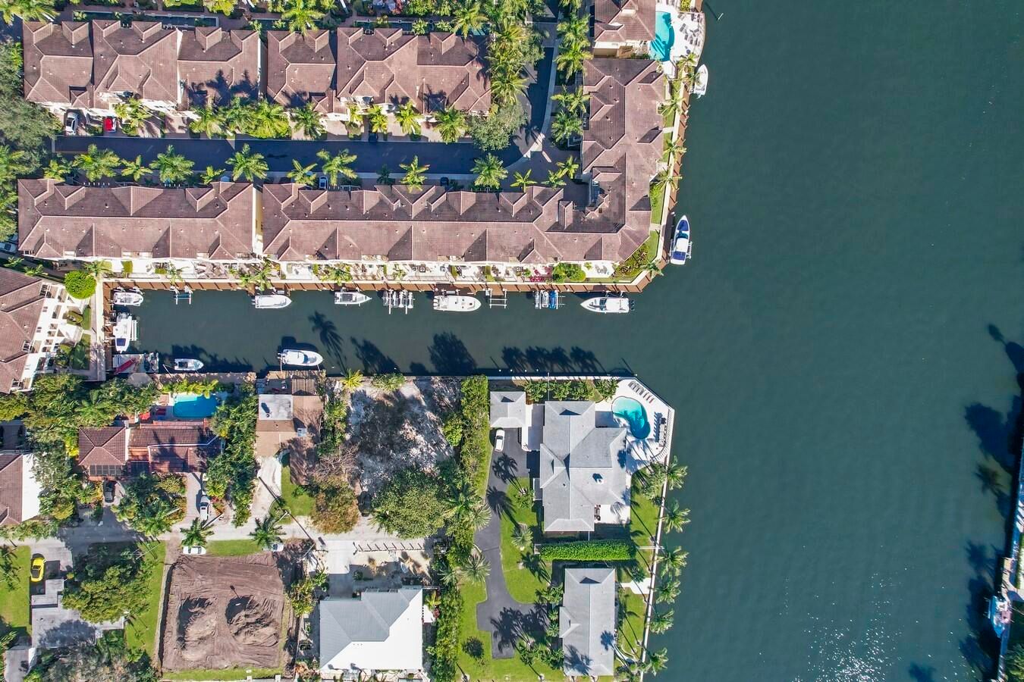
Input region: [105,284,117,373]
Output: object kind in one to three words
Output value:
pier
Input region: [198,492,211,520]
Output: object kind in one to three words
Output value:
vehicle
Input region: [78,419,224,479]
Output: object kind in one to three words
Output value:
house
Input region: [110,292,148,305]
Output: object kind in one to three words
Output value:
boat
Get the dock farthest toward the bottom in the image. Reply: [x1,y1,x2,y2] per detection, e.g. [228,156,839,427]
[996,558,1011,601]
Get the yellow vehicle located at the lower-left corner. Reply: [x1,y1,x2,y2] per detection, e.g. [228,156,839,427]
[31,556,45,580]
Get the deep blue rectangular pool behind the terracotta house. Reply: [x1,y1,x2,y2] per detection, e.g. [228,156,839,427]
[171,394,220,419]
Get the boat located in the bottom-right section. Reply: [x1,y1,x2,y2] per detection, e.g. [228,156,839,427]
[986,586,1008,632]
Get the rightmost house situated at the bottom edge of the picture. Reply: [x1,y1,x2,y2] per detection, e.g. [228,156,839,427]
[559,566,615,676]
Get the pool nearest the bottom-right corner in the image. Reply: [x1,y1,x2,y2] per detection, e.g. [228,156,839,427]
[612,395,652,441]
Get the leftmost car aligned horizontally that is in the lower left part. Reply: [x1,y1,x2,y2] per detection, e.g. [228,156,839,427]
[182,544,207,556]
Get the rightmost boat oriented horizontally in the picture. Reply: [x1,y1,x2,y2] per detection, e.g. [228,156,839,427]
[582,292,634,313]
